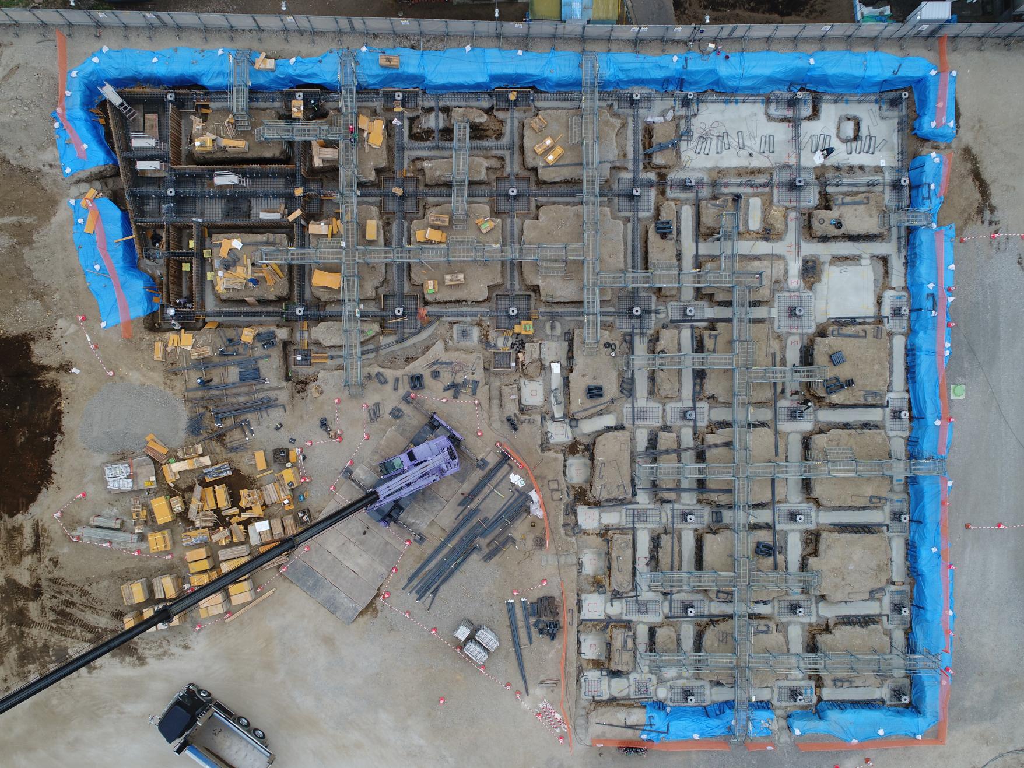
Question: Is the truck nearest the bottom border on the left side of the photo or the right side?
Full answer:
The truck nearest the bottom border appears in the left half of the scene.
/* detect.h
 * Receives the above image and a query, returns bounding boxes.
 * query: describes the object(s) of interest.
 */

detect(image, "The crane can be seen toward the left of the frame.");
[0,395,487,711]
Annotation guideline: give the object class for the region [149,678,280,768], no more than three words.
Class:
truck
